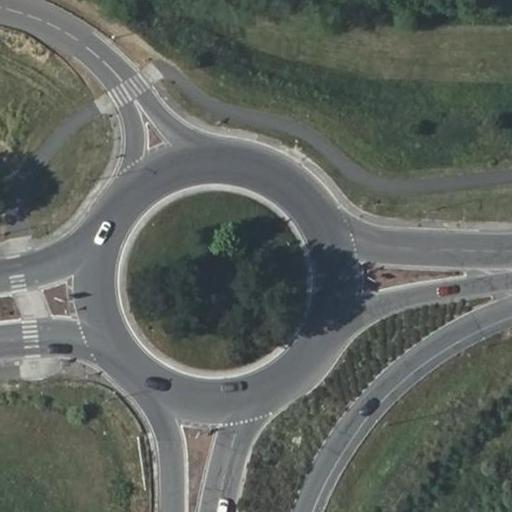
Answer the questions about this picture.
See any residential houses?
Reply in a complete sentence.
No, there isn't any residential house down there.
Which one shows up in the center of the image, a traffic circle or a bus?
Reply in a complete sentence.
The one visible in the center of the image is a traffic circle.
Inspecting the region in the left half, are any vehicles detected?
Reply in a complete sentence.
Yes, a vehicle can be seen in the left half.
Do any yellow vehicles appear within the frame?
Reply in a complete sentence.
No, the photo shows no yellow vehicle.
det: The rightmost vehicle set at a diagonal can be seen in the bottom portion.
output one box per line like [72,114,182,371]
[359,397,380,416]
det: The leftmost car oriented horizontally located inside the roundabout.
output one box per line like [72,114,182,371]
[145,378,170,390]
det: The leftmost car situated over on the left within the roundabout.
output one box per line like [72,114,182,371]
[94,221,112,244]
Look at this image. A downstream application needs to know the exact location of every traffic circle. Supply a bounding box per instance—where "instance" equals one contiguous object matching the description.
[73,139,358,424]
